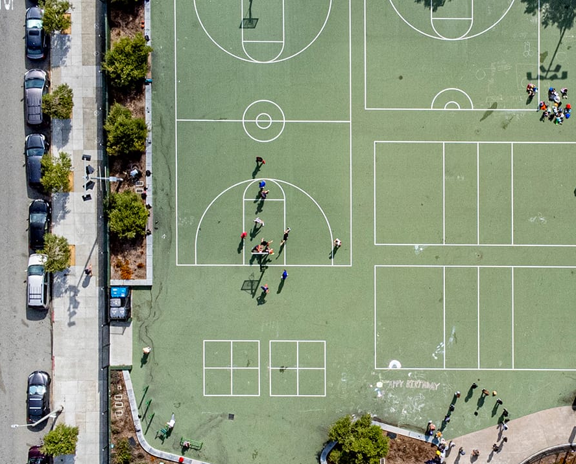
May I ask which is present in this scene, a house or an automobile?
automobile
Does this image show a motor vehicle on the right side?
No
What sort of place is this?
sports ground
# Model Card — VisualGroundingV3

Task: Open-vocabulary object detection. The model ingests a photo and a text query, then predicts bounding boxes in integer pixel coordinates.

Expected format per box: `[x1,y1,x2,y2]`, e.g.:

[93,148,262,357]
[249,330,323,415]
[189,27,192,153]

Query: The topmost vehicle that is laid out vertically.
[24,7,49,61]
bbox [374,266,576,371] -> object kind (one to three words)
sports court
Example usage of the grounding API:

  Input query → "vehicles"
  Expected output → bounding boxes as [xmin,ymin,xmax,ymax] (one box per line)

[24,7,49,61]
[21,133,48,187]
[26,444,50,464]
[26,253,52,309]
[26,198,52,252]
[25,371,52,423]
[22,68,49,126]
